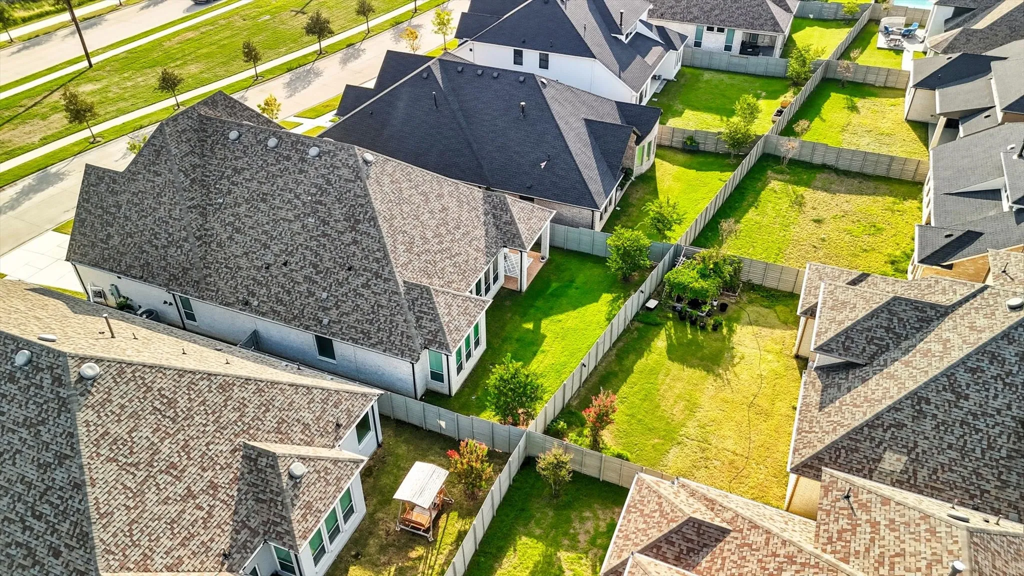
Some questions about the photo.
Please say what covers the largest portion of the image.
buildings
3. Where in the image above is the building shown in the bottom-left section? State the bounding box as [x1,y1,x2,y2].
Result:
[0,279,391,576]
